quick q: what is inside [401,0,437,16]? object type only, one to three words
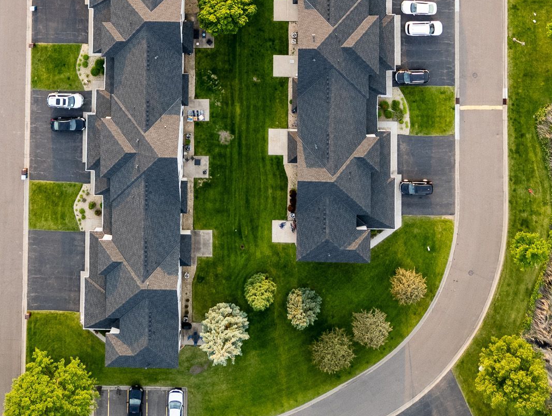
car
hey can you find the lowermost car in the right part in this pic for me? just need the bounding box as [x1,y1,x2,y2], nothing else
[400,178,434,197]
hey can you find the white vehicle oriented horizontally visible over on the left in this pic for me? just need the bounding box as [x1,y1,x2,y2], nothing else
[47,93,84,111]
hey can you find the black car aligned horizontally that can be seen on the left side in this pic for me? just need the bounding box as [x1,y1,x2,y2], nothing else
[50,117,85,134]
